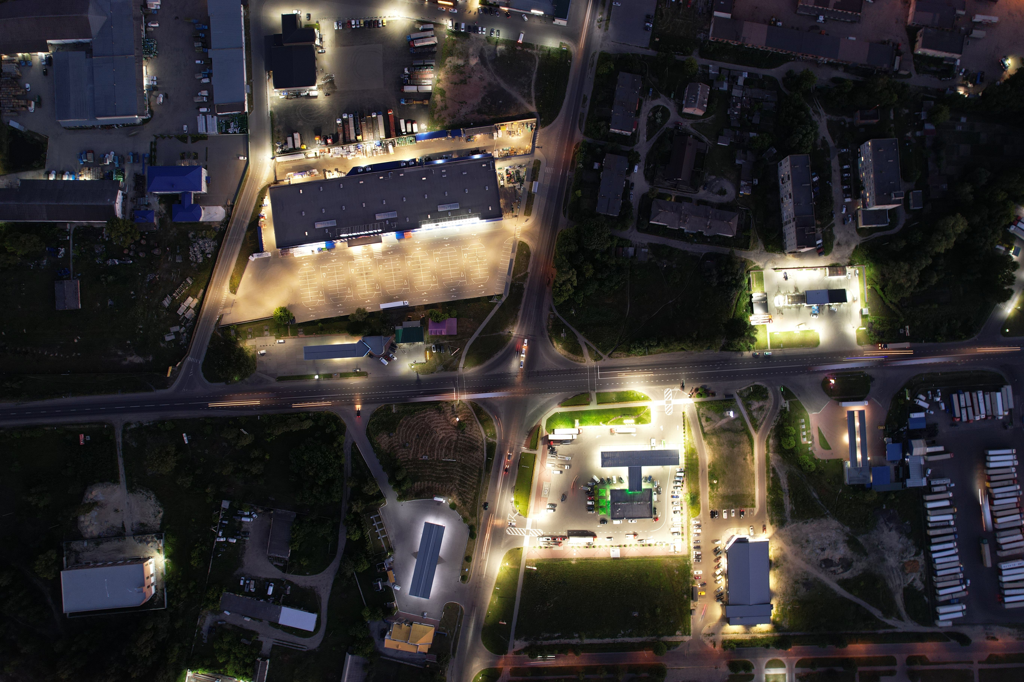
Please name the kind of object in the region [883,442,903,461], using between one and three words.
shed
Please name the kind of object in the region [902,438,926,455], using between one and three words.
barn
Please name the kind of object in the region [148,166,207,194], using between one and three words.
house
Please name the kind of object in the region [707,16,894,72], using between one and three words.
building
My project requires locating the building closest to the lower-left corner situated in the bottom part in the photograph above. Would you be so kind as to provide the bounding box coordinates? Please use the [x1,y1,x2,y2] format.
[61,557,161,613]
